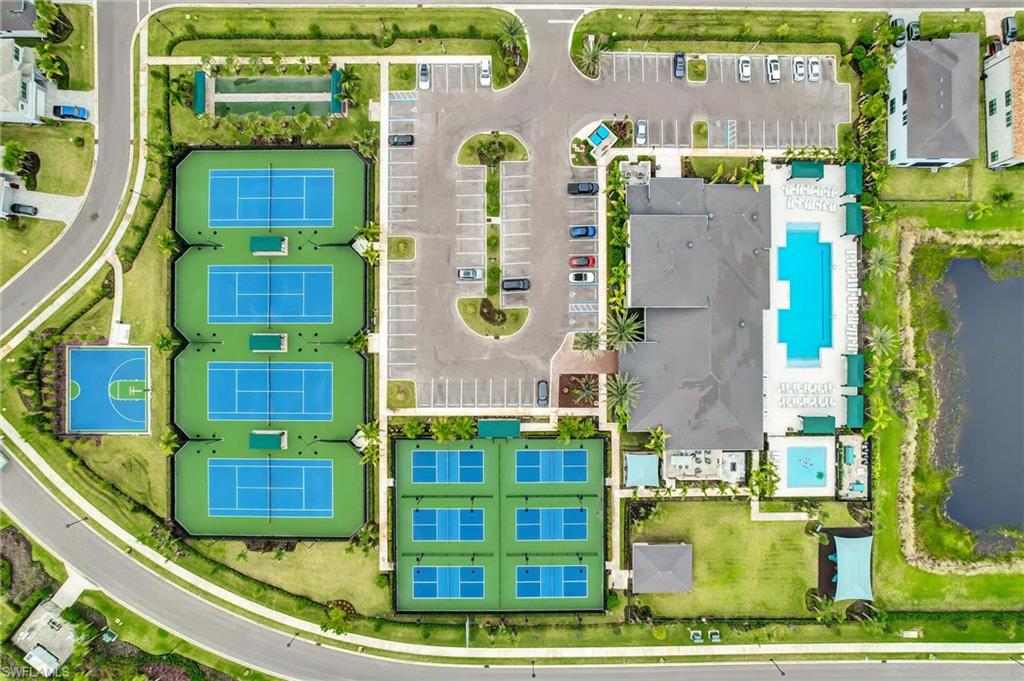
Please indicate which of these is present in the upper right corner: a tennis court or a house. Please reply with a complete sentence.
Visible in the upper right corner is a house.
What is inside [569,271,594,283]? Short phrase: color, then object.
white vehicle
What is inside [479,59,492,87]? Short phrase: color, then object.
white vehicle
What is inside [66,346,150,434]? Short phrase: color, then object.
blue basketball court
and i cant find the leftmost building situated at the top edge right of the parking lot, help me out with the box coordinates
[889,33,979,173]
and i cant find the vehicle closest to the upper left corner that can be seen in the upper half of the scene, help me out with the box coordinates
[54,105,90,119]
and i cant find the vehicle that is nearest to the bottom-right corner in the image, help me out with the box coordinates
[536,380,549,406]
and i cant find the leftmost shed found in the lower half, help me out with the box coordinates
[25,639,67,677]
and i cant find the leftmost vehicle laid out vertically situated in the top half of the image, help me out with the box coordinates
[418,64,430,90]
